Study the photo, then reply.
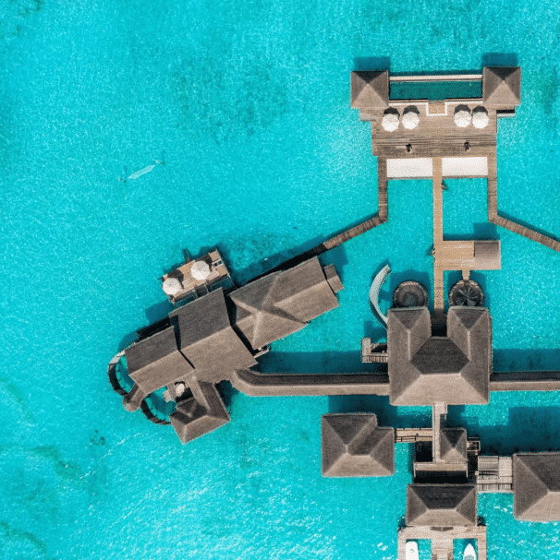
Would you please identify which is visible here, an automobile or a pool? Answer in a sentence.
Visible in the photo is a pool.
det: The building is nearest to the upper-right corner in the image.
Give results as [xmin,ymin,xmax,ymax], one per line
[483,66,522,106]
